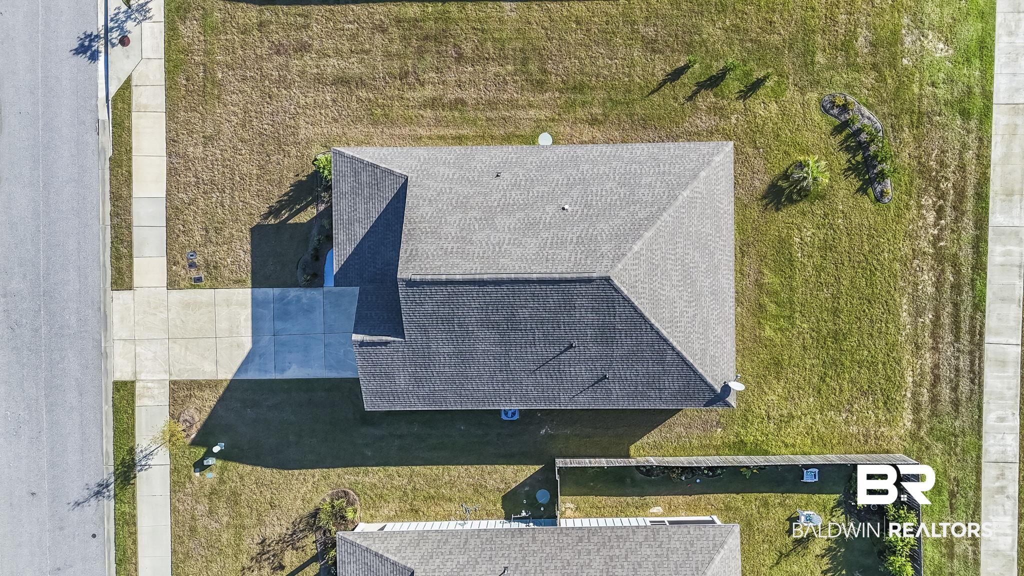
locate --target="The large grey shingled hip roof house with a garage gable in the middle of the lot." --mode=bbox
[331,141,737,412]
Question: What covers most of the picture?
grass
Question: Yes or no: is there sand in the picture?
No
